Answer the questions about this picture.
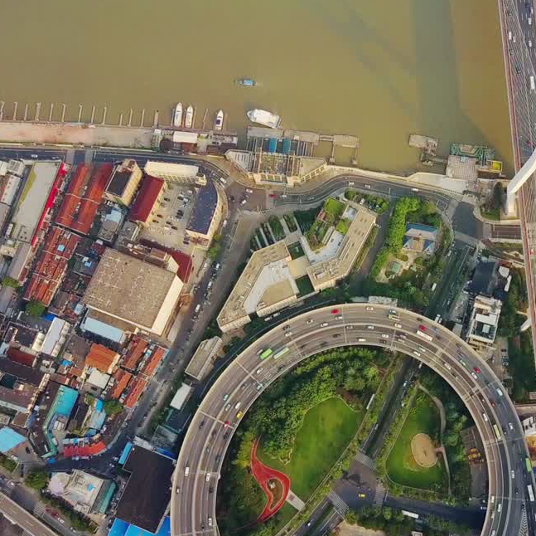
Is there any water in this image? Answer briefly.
Yes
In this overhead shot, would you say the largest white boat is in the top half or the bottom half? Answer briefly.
top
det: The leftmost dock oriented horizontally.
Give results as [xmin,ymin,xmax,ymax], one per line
[247,126,284,139]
